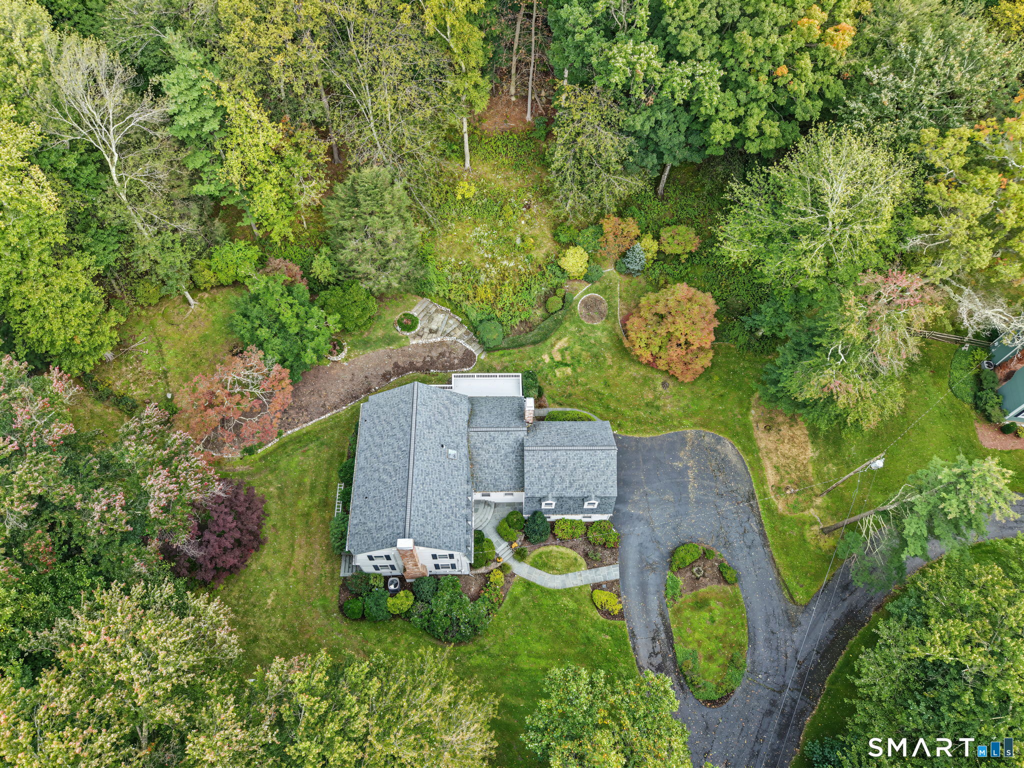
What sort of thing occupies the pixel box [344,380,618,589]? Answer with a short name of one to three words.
house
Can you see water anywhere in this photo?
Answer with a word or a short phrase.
No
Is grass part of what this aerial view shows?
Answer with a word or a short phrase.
Yes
